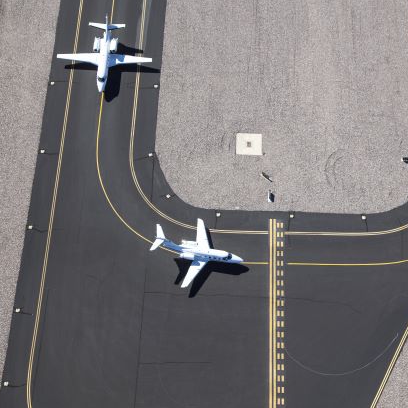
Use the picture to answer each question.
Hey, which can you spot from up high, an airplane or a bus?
airplane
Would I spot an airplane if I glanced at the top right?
No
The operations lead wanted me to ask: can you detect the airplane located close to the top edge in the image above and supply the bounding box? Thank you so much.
[57,19,153,92]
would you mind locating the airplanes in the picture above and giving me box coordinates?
[57,19,153,92]
[150,219,245,287]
